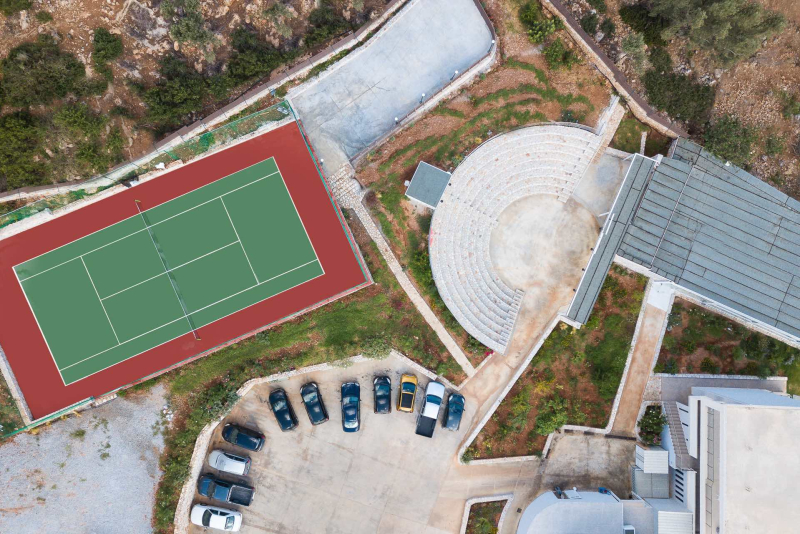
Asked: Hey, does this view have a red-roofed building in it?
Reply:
No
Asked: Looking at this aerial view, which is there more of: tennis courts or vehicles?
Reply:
vehicles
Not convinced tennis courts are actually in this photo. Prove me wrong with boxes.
[0,114,373,427]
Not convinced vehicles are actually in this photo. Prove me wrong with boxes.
[208,447,253,479]
[338,381,362,433]
[298,379,330,427]
[441,392,468,433]
[190,501,245,534]
[197,473,256,509]
[415,379,445,440]
[266,386,300,435]
[397,373,420,414]
[370,376,393,414]
[221,420,266,454]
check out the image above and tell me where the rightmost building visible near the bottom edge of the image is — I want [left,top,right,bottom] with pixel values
[687,389,800,534]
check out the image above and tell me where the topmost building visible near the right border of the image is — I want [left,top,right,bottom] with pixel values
[613,137,800,353]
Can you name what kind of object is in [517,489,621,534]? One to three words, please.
building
